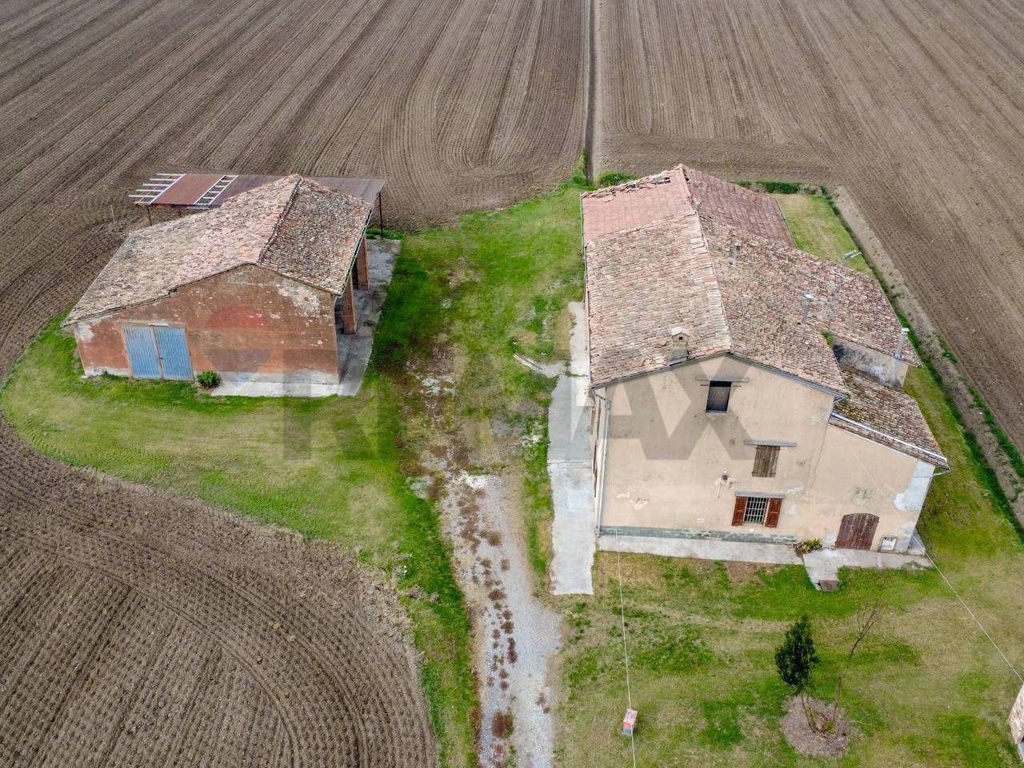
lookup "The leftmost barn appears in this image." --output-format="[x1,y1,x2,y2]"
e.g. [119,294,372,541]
[59,172,373,382]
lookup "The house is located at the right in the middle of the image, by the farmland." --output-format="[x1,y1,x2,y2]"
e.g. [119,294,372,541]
[577,164,952,551]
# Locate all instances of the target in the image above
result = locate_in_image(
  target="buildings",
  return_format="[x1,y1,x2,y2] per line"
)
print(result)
[1008,682,1024,768]
[59,172,373,382]
[577,164,952,551]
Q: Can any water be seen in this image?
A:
No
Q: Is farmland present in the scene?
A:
Yes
